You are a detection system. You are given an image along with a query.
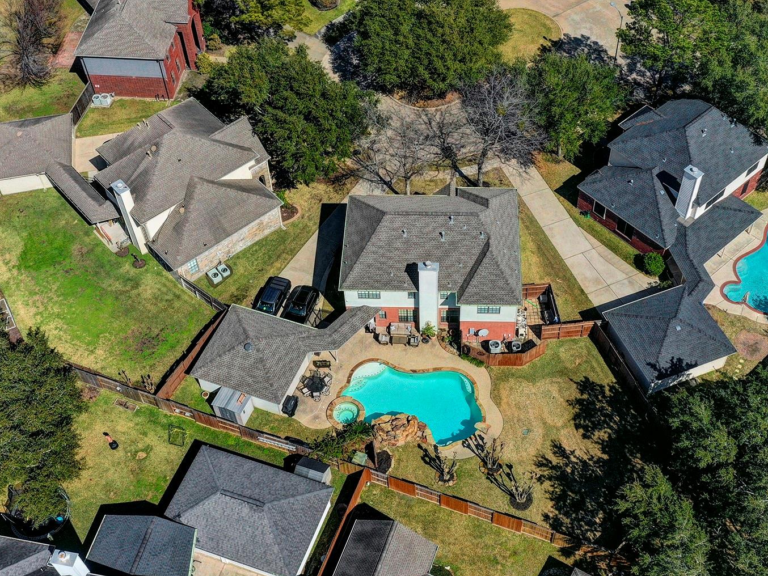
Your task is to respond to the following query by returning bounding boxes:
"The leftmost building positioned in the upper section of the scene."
[0,112,121,231]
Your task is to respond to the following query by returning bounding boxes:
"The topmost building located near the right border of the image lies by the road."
[576,91,768,305]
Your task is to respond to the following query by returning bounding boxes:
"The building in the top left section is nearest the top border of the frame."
[74,0,199,100]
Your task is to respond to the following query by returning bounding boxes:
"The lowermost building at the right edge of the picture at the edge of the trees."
[601,285,736,401]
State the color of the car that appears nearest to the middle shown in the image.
black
